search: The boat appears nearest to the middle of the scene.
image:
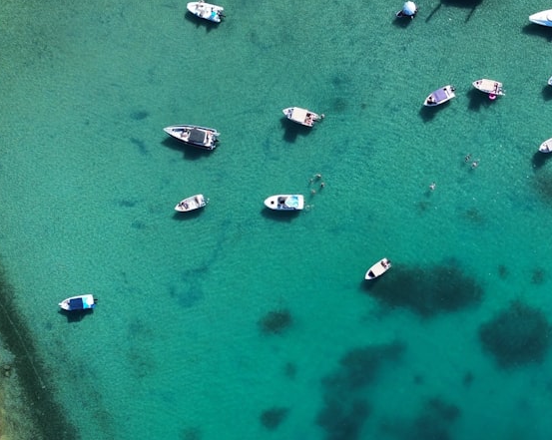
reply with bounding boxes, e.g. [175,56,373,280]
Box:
[264,194,305,209]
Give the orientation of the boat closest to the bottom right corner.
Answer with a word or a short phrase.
at an angle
